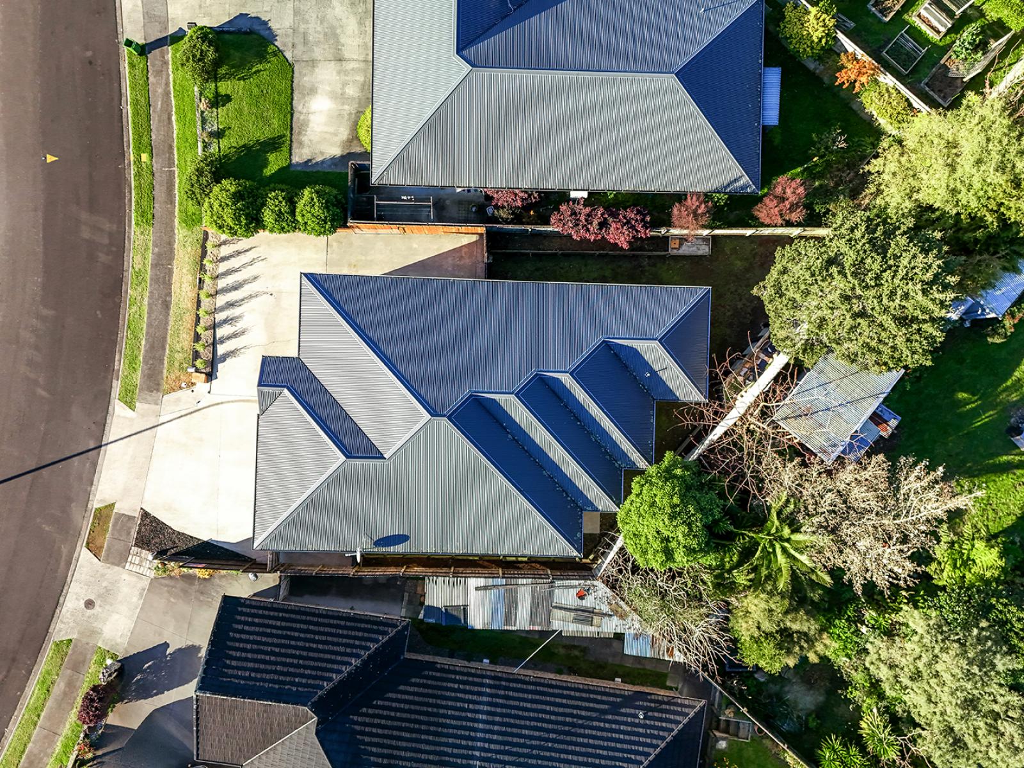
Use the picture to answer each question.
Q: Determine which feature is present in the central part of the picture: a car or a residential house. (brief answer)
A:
residential house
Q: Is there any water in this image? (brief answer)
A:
No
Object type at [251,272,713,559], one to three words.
house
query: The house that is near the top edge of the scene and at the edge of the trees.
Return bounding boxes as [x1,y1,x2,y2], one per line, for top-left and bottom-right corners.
[368,0,768,196]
